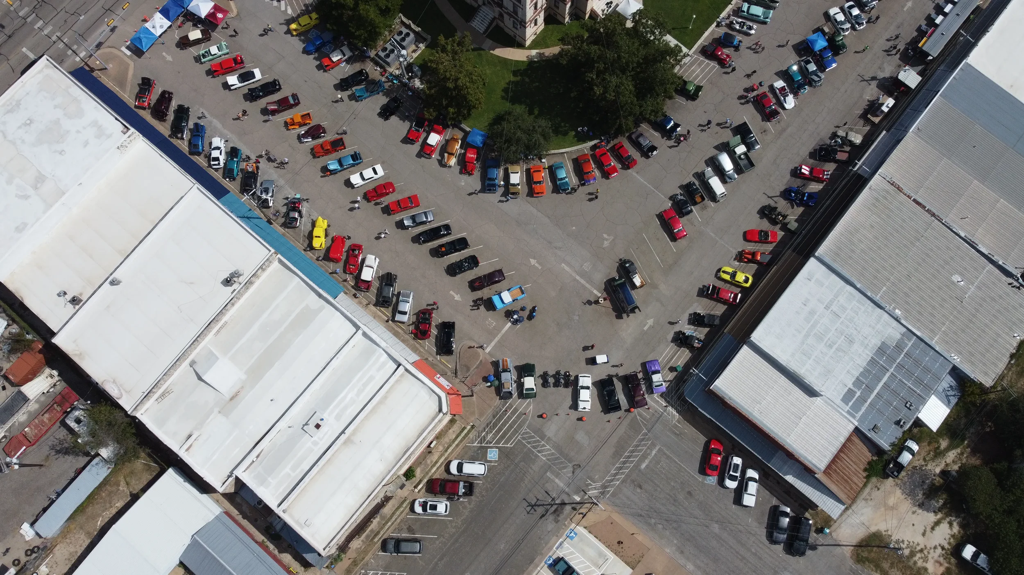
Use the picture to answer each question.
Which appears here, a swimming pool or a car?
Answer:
car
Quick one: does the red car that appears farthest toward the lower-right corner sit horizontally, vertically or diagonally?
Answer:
vertically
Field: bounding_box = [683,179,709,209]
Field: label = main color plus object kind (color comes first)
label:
black truck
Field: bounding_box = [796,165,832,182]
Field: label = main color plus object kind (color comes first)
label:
red car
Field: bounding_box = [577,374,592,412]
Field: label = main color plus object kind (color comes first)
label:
white car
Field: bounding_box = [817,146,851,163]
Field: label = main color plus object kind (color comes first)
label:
black vehicle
